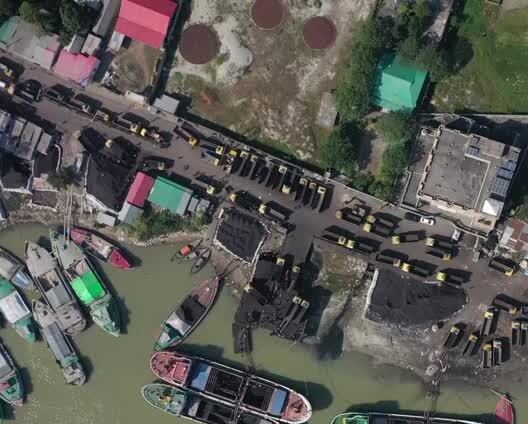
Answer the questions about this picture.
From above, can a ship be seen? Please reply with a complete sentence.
Yes, there is a ship in the image.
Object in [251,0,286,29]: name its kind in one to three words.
storage tank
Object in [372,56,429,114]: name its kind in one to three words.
house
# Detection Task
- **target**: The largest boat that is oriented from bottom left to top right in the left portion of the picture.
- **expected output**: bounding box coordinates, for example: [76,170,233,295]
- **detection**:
[154,277,219,353]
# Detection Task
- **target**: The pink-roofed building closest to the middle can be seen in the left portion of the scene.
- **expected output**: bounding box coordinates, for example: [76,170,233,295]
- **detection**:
[125,171,156,206]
